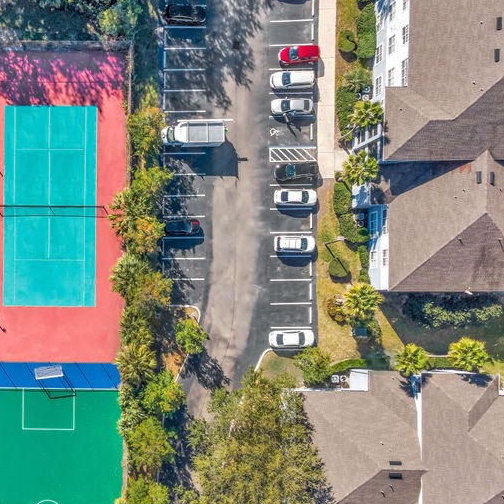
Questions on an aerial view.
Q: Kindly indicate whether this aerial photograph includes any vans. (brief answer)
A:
Yes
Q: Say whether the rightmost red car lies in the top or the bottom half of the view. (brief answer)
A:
top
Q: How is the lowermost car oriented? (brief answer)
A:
from left to right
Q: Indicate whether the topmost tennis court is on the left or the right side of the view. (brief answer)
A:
left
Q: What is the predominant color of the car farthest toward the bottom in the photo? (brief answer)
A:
white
